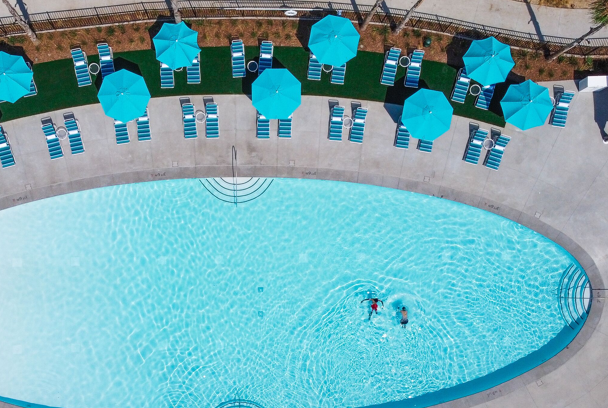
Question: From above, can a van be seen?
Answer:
No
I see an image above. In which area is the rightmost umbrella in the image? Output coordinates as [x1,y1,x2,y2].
[501,79,553,130]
